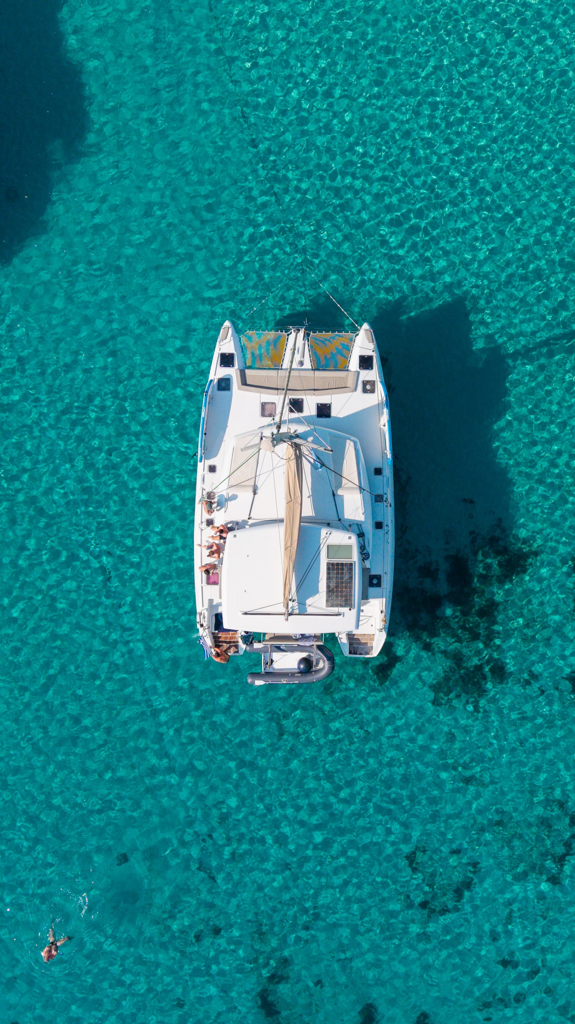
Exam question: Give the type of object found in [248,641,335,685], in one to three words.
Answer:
boat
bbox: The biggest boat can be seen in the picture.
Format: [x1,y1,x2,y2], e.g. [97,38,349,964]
[194,318,395,669]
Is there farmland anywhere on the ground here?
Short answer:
No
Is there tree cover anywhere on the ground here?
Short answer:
No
